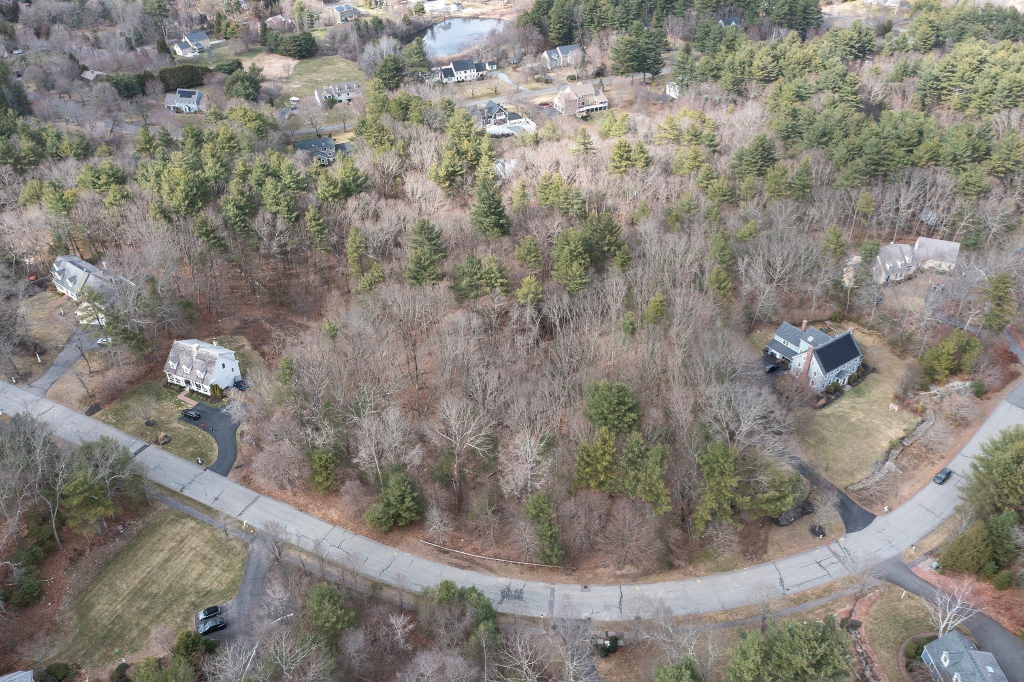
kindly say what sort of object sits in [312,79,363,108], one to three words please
house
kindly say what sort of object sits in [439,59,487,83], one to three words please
house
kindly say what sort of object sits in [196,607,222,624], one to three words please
car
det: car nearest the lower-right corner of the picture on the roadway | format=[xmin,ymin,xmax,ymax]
[937,467,949,485]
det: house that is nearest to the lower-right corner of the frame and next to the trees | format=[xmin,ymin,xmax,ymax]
[920,626,1014,682]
